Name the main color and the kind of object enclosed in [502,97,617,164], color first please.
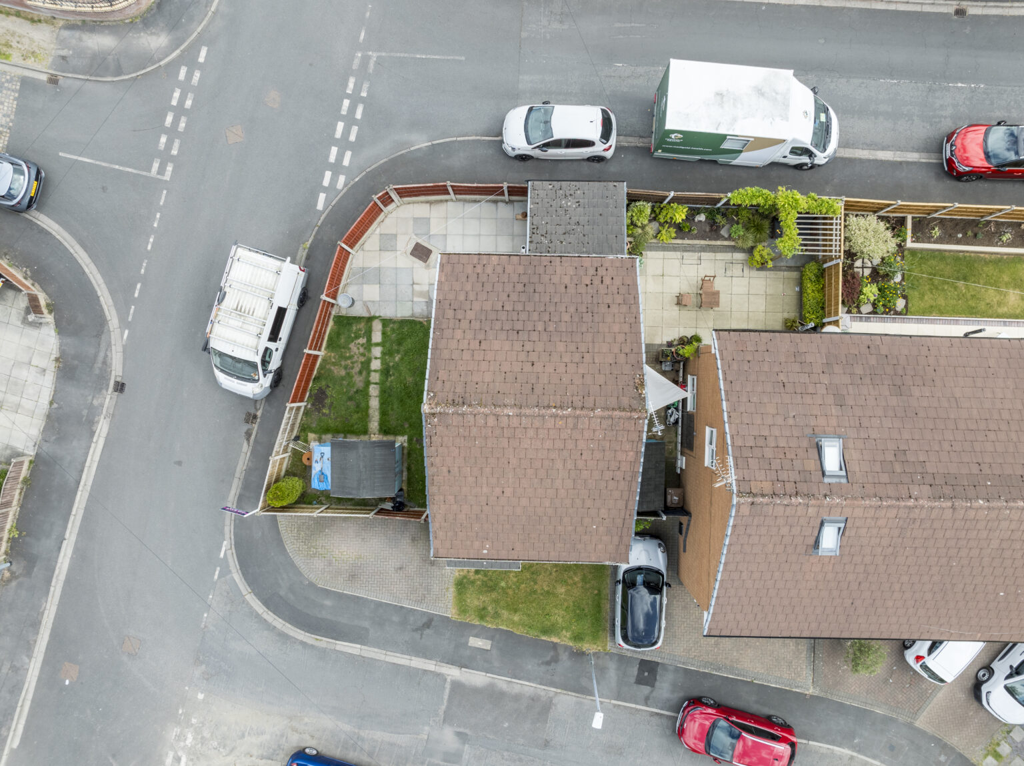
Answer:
white car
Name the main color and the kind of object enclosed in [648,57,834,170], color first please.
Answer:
white truck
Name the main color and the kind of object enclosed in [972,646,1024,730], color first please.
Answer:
white van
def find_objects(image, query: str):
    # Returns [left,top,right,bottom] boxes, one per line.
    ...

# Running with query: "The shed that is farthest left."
[330,439,403,500]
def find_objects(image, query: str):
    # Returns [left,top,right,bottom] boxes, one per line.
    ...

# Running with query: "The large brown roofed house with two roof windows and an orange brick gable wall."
[677,308,1024,647]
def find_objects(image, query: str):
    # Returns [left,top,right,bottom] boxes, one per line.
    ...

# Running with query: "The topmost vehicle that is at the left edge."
[0,147,53,215]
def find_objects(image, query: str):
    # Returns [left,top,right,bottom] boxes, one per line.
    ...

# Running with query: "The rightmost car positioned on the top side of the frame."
[936,114,1024,184]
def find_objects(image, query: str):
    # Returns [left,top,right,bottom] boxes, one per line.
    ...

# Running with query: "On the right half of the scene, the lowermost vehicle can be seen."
[673,694,801,766]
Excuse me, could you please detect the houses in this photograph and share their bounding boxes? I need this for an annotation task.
[677,308,1024,647]
[407,178,663,575]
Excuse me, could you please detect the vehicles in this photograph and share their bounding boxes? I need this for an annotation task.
[972,646,1024,730]
[648,57,834,170]
[0,147,53,215]
[902,644,991,683]
[610,533,673,653]
[673,694,801,766]
[502,97,617,164]
[936,114,1024,184]
[281,746,353,766]
[208,245,310,399]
